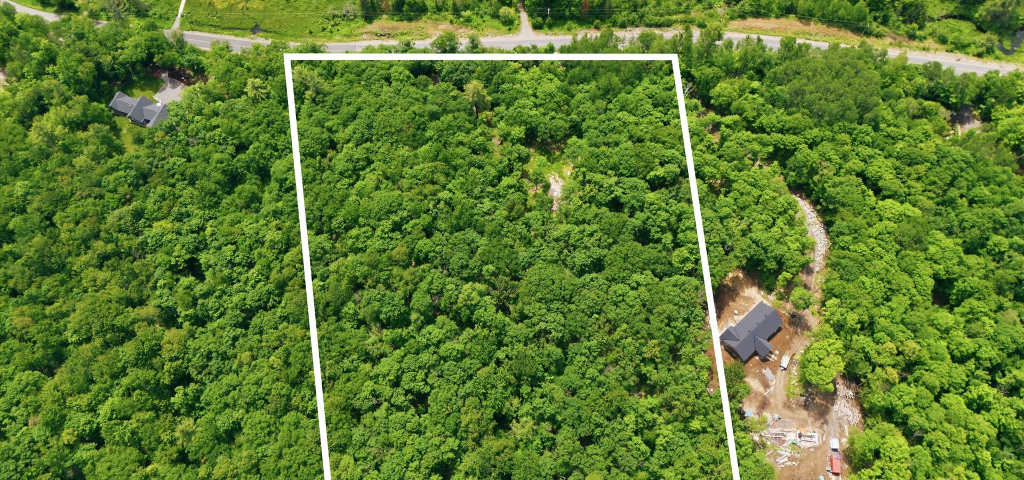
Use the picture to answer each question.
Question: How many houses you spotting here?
2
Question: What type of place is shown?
forest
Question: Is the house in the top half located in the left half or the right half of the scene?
left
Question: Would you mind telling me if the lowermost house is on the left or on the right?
right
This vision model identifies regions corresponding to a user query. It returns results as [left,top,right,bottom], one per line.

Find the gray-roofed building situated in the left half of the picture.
[107,91,172,135]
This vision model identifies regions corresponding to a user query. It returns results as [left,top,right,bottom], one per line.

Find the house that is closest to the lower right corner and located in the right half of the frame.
[718,302,786,364]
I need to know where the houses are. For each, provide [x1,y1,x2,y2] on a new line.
[107,91,172,135]
[718,302,786,364]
